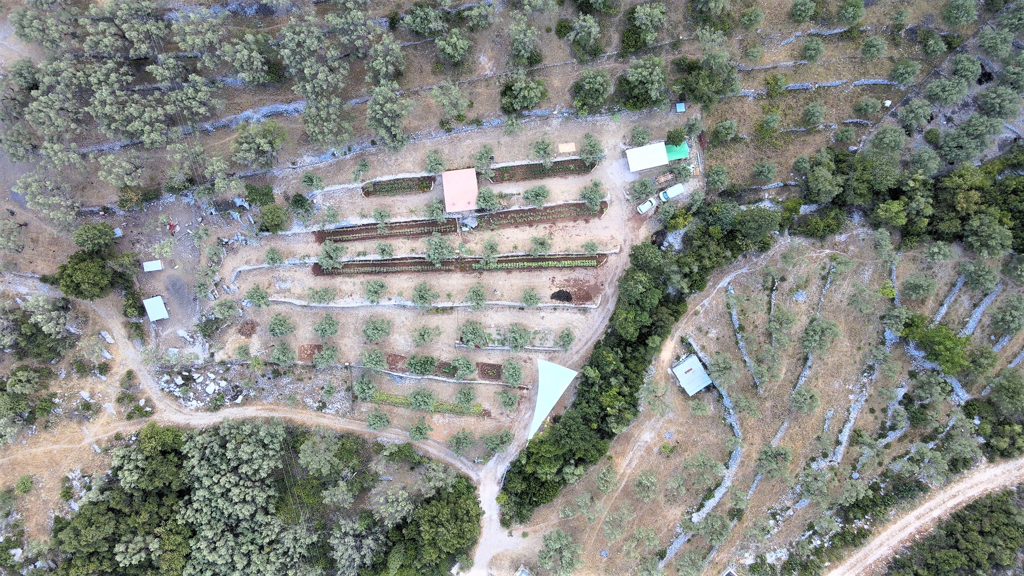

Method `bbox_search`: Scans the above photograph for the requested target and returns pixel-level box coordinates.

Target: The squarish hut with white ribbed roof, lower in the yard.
[144,296,173,321]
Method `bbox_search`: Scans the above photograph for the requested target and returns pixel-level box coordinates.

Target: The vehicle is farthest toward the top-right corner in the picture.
[658,182,686,203]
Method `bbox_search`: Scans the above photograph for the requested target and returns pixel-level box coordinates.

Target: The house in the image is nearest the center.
[442,168,478,212]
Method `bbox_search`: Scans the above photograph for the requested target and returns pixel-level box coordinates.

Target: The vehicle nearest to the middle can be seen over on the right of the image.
[637,197,657,215]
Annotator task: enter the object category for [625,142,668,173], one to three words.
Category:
house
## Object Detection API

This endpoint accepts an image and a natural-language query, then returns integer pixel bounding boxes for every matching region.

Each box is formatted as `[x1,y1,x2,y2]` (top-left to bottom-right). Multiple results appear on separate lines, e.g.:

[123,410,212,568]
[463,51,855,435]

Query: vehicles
[658,182,686,203]
[637,197,657,215]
